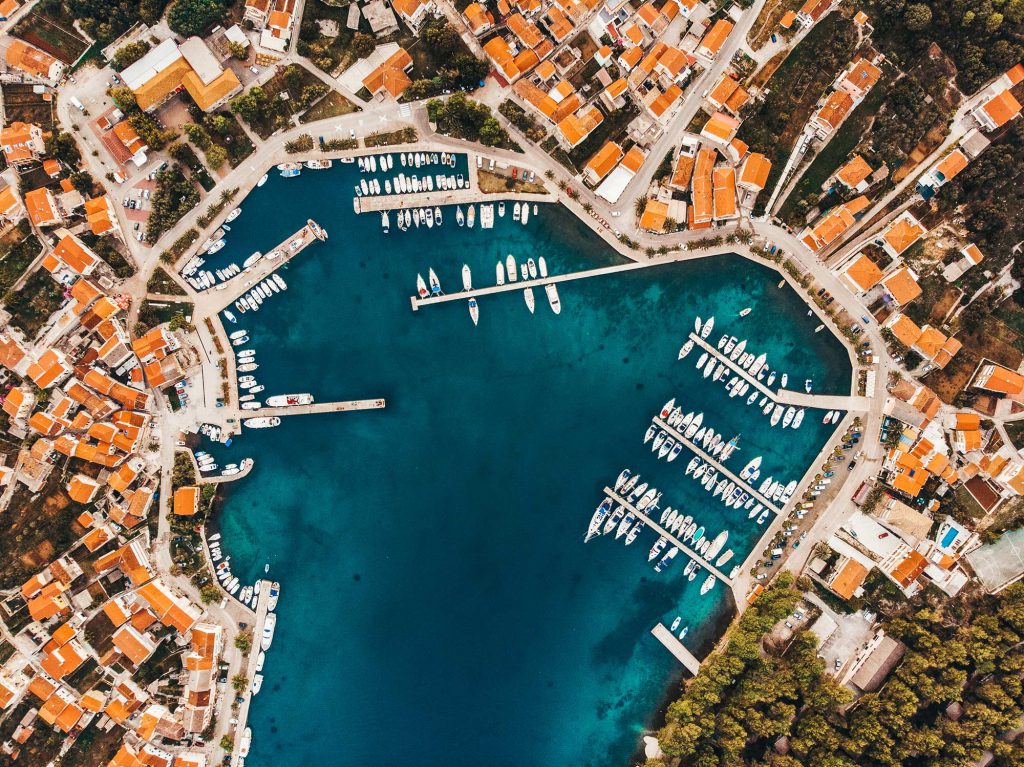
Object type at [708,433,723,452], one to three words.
boat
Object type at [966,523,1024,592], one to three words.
sports court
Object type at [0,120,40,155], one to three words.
house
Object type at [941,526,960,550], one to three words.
swimming pool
